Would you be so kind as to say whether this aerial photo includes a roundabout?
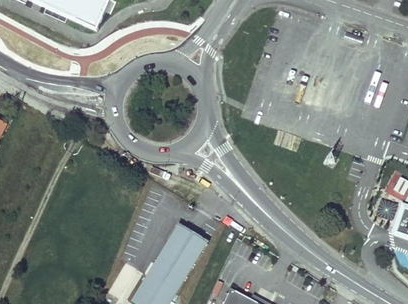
Yes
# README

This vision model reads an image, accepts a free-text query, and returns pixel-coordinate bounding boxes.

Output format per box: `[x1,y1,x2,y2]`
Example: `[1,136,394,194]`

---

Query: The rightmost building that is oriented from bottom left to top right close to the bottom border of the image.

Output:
[132,223,210,304]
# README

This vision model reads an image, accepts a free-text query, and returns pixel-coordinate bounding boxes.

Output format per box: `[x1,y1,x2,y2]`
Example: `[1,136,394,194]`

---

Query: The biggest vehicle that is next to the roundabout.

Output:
[150,168,172,182]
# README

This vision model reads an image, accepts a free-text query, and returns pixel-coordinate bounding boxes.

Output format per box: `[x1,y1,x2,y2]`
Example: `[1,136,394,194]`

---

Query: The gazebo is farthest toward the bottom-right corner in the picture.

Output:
[377,200,398,220]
